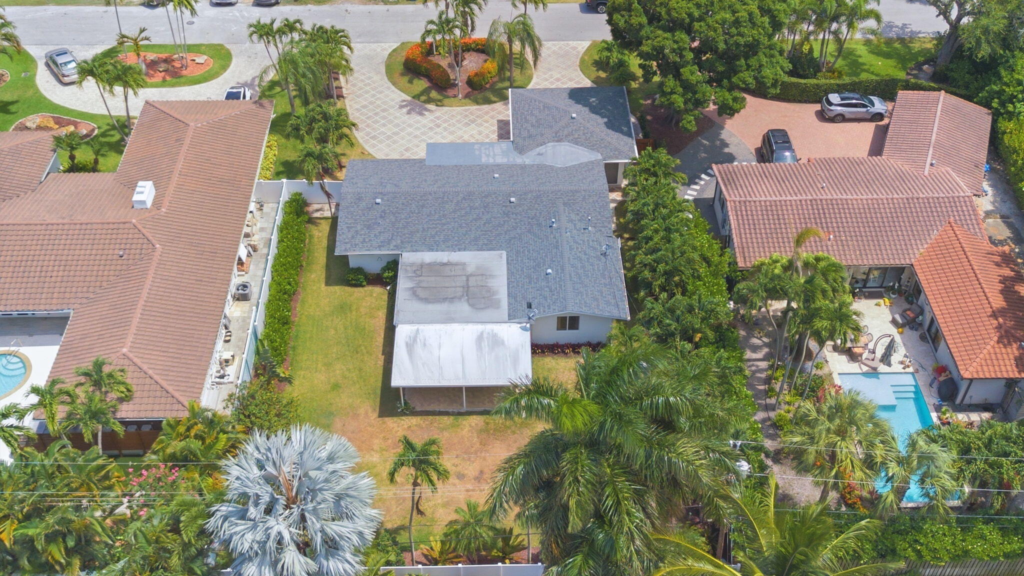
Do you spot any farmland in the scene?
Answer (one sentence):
No, the scene doesn't show any farmland.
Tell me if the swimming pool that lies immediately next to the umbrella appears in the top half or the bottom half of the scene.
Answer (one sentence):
It is in the bottom half that the swimming pool that lies immediately next to the umbrella appears.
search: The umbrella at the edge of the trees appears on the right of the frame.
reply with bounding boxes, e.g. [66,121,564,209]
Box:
[864,322,911,365]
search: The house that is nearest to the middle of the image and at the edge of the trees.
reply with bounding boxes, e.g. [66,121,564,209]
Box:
[334,86,638,412]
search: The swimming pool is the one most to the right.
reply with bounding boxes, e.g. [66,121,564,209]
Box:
[832,369,965,510]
